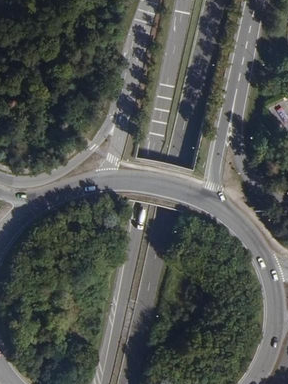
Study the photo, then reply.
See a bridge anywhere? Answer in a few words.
Yes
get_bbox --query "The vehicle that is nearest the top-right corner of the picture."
[275,105,288,122]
